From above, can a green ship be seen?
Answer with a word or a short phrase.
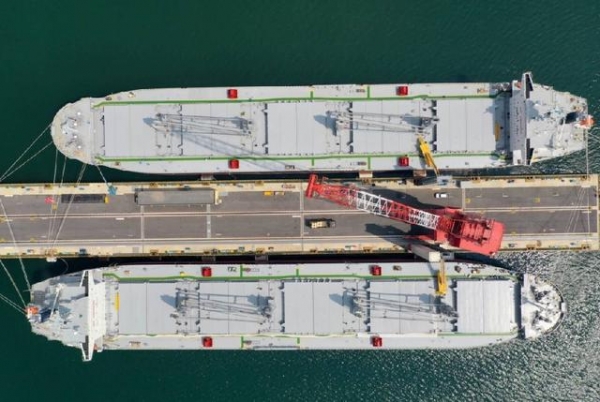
No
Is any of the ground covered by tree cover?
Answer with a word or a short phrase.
No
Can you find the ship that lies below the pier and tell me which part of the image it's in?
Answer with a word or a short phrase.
bottom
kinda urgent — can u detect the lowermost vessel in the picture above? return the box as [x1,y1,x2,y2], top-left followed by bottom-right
[23,258,567,359]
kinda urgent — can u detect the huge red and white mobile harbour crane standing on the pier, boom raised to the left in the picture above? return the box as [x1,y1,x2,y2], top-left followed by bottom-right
[304,172,508,252]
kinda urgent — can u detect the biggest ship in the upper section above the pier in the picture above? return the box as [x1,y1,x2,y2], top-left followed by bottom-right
[49,74,593,175]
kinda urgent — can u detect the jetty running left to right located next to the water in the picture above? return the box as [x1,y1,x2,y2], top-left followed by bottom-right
[0,173,599,260]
